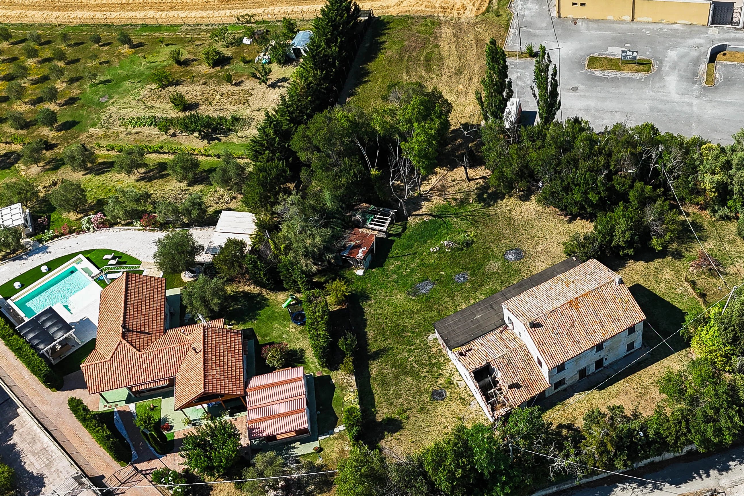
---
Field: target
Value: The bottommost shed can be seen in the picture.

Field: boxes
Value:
[247,366,312,445]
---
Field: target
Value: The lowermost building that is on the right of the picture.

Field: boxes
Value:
[434,256,646,430]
